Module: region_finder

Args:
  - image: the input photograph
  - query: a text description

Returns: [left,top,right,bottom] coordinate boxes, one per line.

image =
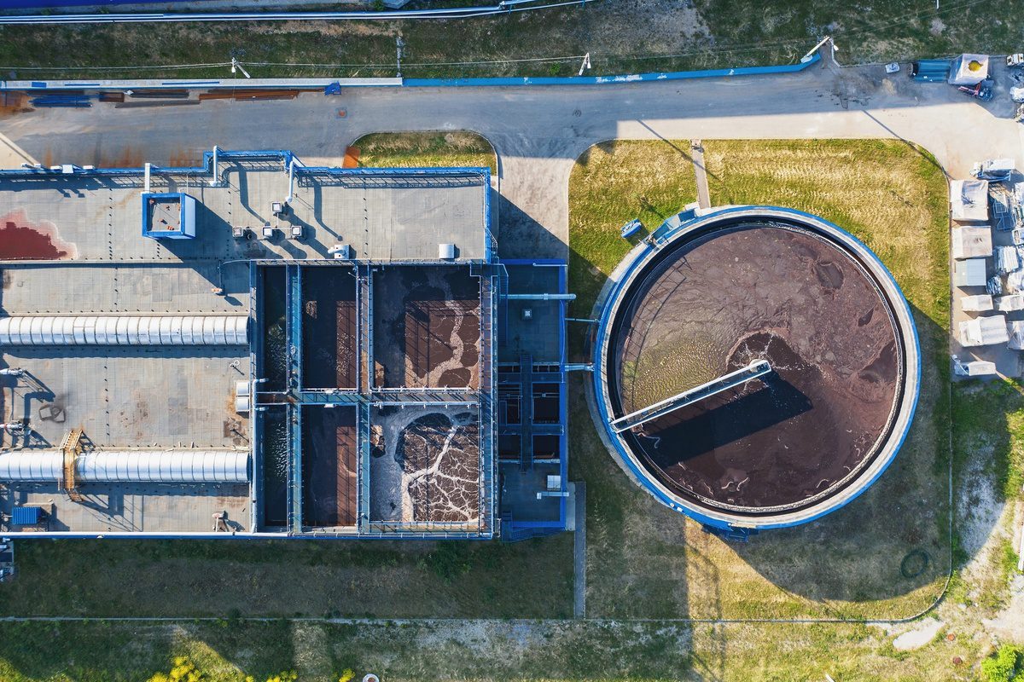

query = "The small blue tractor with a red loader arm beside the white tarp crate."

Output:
[958,82,1002,103]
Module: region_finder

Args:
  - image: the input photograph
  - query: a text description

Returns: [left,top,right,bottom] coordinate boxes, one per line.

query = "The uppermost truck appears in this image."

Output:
[996,52,1024,74]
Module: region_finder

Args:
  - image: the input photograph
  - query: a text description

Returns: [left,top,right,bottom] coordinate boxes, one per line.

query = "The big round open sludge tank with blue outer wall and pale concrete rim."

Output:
[593,207,921,529]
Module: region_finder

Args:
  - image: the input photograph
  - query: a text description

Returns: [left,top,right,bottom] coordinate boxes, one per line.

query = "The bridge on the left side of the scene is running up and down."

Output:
[59,431,87,503]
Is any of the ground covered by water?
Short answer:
Yes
